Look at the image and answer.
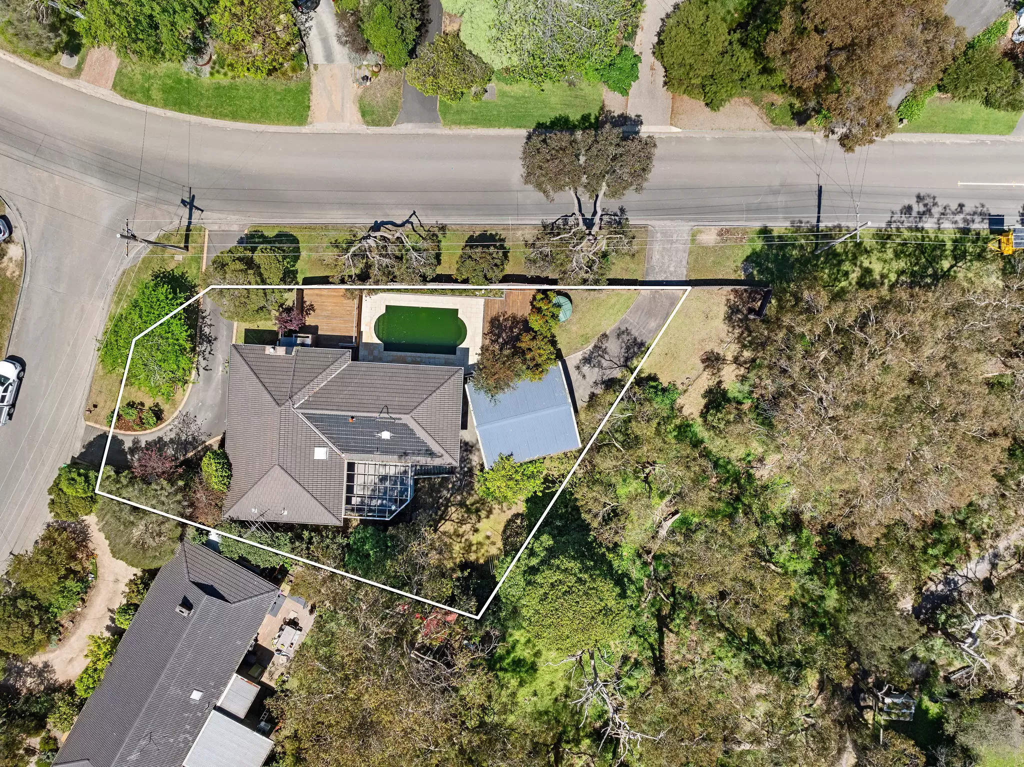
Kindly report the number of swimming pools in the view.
1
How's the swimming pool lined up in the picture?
horizontally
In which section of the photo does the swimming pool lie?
center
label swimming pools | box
[373,304,467,355]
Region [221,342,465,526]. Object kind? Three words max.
house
